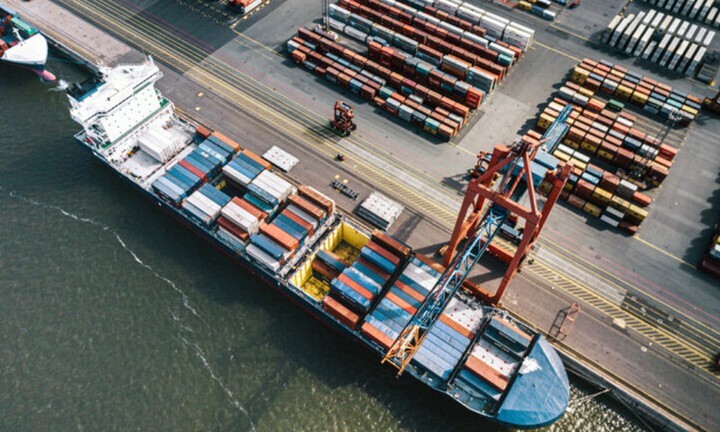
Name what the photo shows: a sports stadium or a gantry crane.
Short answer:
gantry crane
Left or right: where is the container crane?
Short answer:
right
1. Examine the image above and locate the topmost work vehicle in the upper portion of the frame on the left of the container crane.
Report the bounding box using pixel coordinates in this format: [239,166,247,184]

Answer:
[330,100,355,134]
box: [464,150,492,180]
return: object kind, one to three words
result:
work vehicle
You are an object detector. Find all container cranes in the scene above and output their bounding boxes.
[382,102,576,372]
